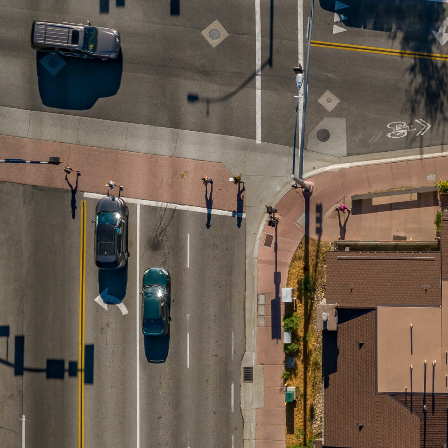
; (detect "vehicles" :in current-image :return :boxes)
[89,197,127,271]
[138,266,171,336]
[30,19,120,61]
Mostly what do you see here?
paved ground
